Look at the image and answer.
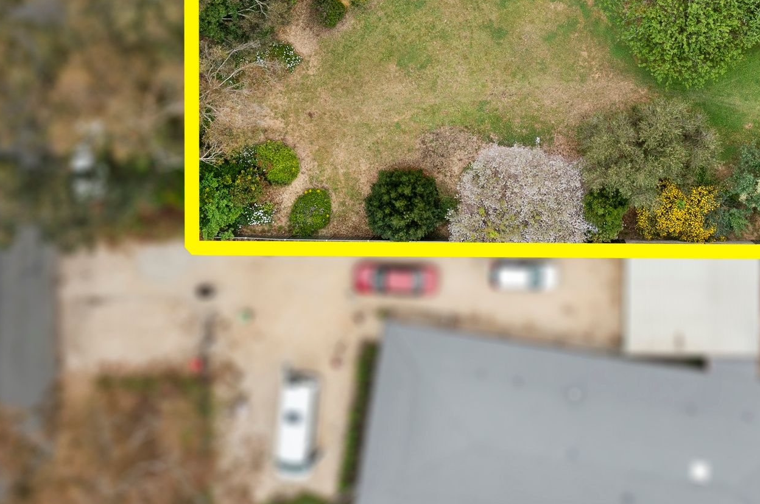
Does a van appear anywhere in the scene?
Yes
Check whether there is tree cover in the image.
Yes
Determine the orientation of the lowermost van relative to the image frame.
up and down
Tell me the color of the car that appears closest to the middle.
red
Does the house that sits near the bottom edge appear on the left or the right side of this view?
right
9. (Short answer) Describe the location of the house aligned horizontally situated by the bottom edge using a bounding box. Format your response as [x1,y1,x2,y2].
[356,320,760,504]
